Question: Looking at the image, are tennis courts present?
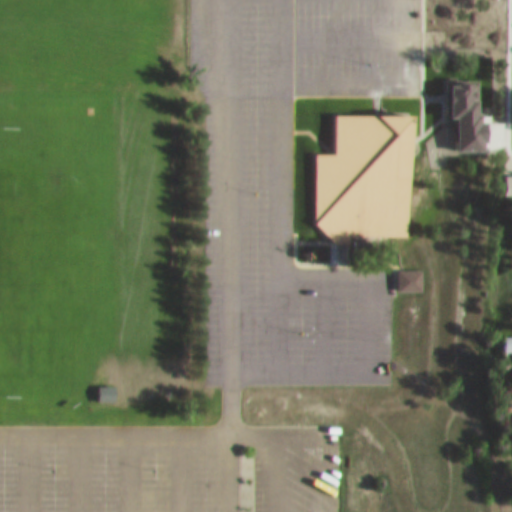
No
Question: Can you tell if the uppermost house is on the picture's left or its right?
right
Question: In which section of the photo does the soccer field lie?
left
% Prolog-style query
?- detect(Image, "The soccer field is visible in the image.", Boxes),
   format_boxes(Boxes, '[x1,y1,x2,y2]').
[0,128,100,398]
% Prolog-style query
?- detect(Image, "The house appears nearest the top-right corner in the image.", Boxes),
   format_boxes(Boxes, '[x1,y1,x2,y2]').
[452,81,491,152]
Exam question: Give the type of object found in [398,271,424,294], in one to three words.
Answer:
building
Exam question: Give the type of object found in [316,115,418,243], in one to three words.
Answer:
building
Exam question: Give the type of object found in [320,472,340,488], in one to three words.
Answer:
vehicle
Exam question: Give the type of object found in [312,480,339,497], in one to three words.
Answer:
vehicle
